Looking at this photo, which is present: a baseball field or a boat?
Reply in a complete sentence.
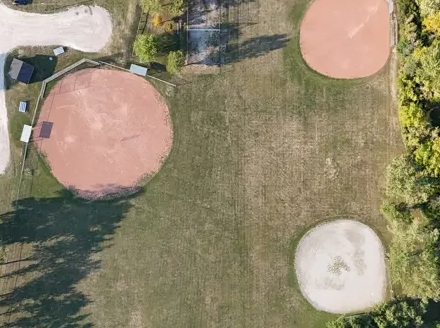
I can see a baseball field in this picture.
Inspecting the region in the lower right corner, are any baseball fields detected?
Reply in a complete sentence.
Yes, a baseball field can be seen in the lower right corner.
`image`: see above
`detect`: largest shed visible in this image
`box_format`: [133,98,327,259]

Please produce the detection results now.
[7,58,35,85]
